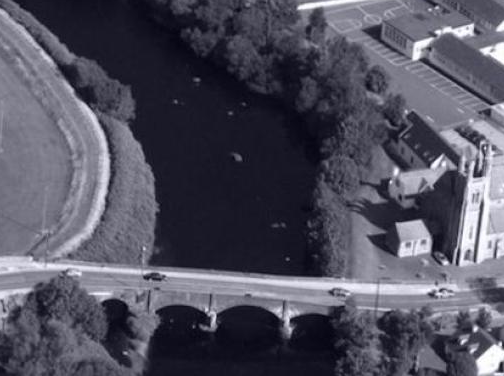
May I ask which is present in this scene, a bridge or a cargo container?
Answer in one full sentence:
I can see a bridge in this picture.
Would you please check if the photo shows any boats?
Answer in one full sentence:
No, I can't see a single boat in this photo.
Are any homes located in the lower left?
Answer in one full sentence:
No, no home appears in the lower left.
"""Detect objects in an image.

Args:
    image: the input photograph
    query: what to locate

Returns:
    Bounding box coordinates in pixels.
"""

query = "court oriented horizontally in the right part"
[325,0,412,34]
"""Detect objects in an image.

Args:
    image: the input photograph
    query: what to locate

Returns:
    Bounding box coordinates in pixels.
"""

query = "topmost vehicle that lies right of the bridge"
[430,249,450,265]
